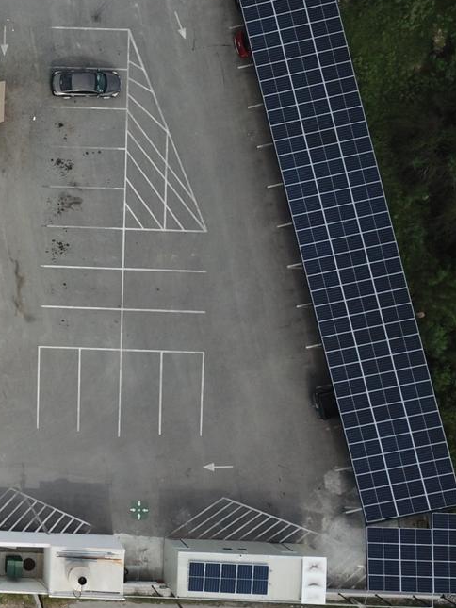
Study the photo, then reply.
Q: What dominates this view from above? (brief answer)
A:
paved ground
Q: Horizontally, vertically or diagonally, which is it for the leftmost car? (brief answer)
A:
horizontally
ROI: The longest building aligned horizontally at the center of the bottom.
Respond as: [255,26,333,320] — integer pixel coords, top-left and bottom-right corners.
[165,540,304,606]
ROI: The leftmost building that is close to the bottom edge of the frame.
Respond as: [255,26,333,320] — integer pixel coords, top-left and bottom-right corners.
[42,535,125,601]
